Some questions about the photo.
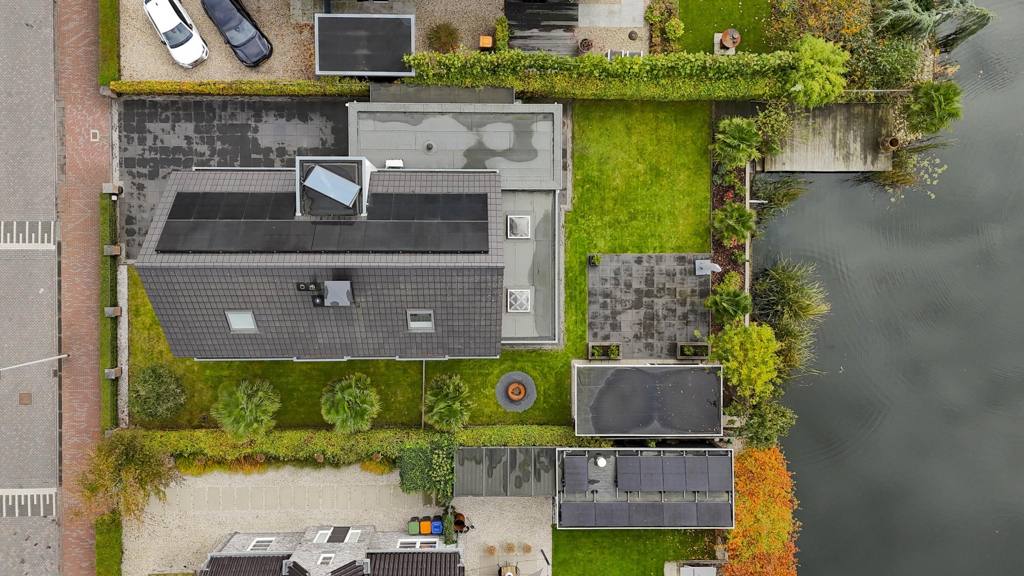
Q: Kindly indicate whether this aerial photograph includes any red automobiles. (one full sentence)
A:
No, there is no red automobile in the image.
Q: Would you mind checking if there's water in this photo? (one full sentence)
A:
Yes, there's water in this view.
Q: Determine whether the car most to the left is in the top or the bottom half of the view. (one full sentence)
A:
It is in the top half that the car most to the left appears.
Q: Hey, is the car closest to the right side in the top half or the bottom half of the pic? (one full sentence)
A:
It is in the top half that the car closest to the right side appears.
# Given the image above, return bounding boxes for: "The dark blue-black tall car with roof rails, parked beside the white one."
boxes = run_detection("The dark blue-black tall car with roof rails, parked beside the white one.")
[196,0,273,70]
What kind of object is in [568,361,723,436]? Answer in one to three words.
shed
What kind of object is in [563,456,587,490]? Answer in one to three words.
solar panel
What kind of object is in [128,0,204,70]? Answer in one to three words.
car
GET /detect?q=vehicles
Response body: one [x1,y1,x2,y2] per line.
[128,0,204,70]
[196,0,273,70]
